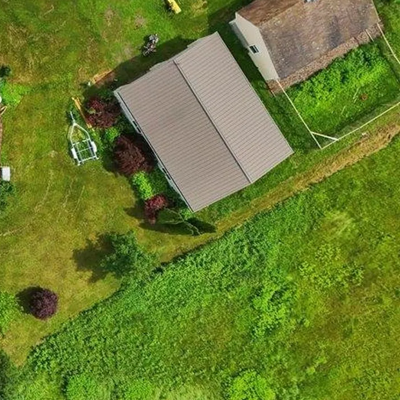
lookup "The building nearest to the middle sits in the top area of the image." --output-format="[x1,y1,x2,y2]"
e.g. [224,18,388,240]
[113,30,293,214]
